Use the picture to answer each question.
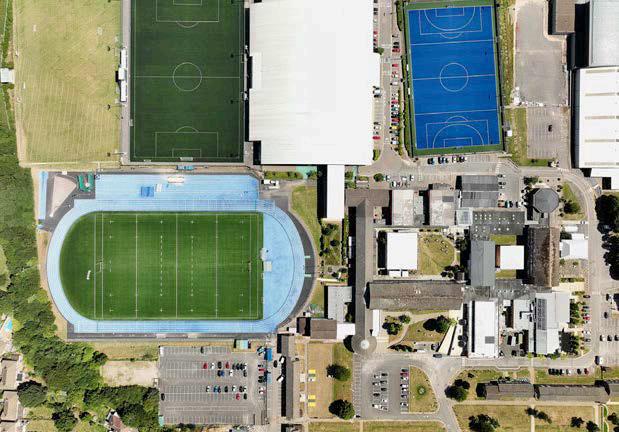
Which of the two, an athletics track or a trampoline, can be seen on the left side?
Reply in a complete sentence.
There is an athletics track on the left side.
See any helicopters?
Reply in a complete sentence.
No, there isn't any helicopter down there.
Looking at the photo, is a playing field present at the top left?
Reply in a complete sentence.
Yes, a playing field can be seen at the top left.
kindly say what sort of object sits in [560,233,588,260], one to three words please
shed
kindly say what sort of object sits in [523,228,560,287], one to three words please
building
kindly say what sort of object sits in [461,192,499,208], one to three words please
building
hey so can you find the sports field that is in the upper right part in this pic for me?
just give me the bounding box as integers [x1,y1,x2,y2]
[406,0,503,156]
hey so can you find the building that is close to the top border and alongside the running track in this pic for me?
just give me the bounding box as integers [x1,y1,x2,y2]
[249,0,380,167]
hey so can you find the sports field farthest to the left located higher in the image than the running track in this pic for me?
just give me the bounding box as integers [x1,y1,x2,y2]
[13,0,121,162]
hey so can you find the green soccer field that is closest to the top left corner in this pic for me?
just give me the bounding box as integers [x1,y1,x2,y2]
[131,0,244,161]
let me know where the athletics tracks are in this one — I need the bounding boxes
[36,172,314,341]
